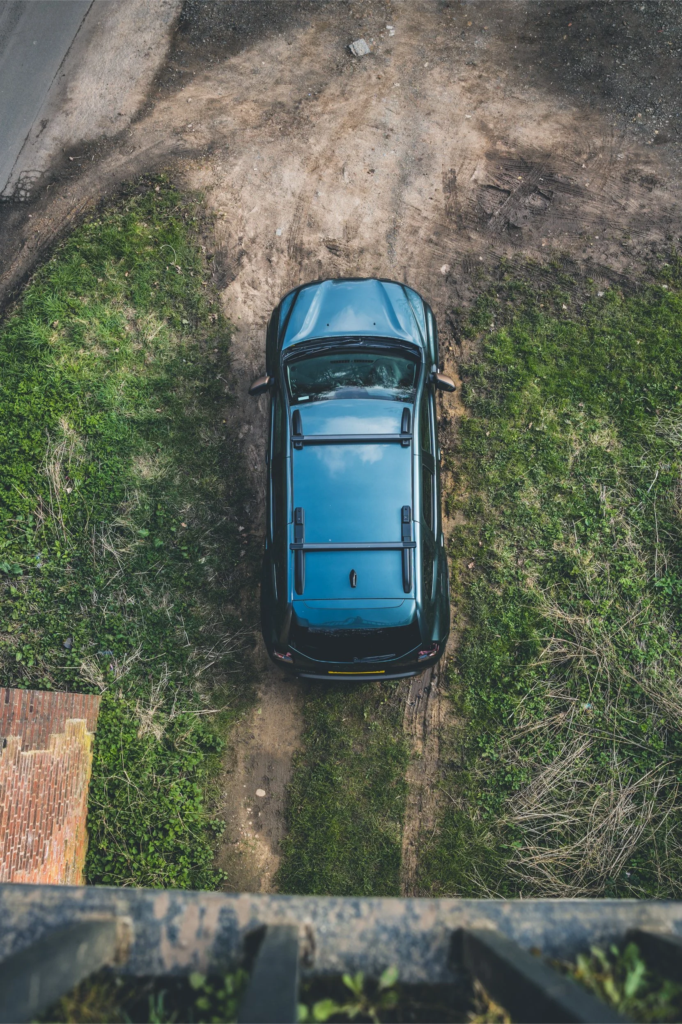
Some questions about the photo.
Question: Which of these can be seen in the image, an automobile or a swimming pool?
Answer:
automobile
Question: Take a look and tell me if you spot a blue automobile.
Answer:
Yes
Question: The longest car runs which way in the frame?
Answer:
from top to bottom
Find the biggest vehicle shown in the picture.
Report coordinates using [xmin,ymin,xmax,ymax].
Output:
[249,275,456,682]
